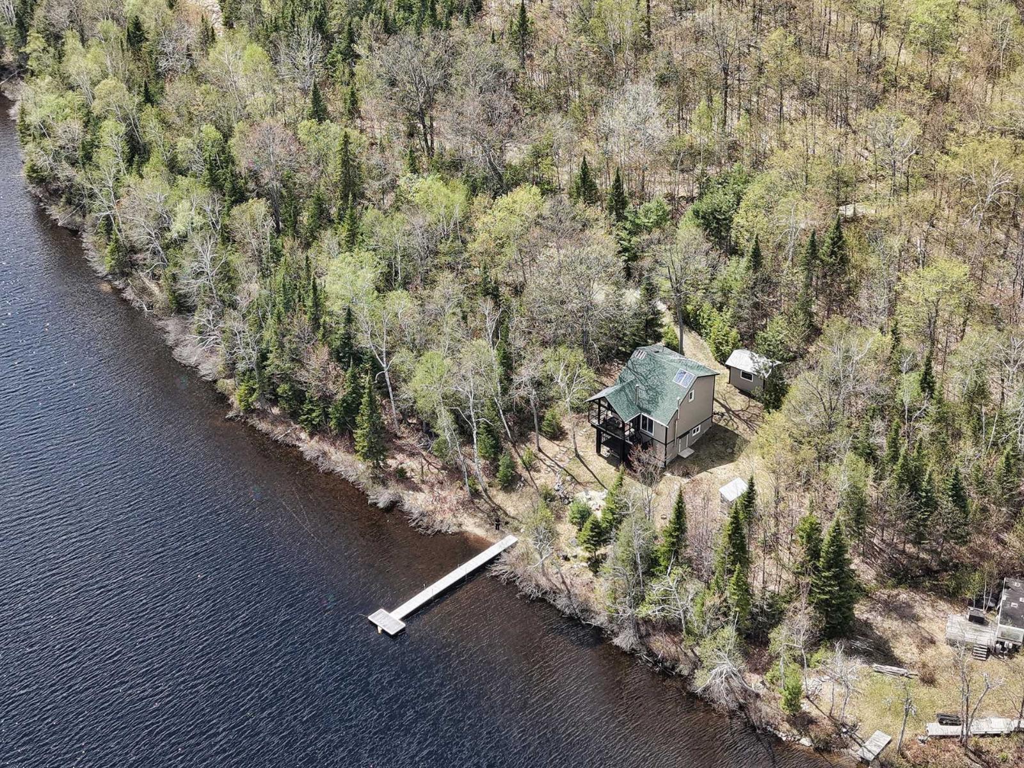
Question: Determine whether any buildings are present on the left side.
No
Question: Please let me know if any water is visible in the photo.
Yes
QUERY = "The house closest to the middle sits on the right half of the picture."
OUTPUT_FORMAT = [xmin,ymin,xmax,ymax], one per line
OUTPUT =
[585,344,720,472]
